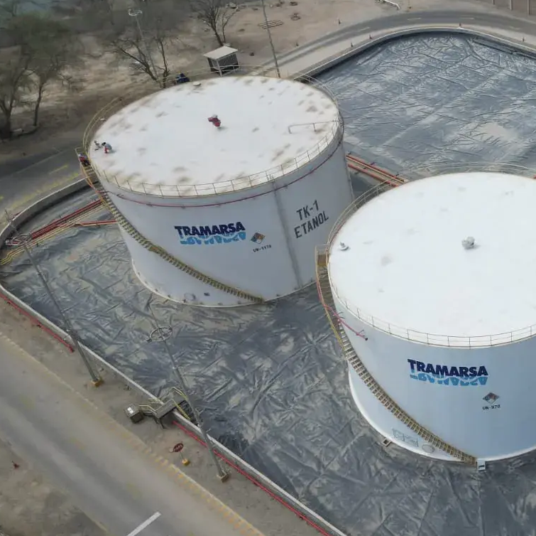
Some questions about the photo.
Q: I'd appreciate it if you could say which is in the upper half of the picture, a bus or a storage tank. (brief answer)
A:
storage tank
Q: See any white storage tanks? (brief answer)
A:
Yes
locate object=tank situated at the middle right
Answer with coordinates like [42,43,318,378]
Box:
[311,162,536,469]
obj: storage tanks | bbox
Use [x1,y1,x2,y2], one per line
[72,68,358,307]
[311,162,536,469]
